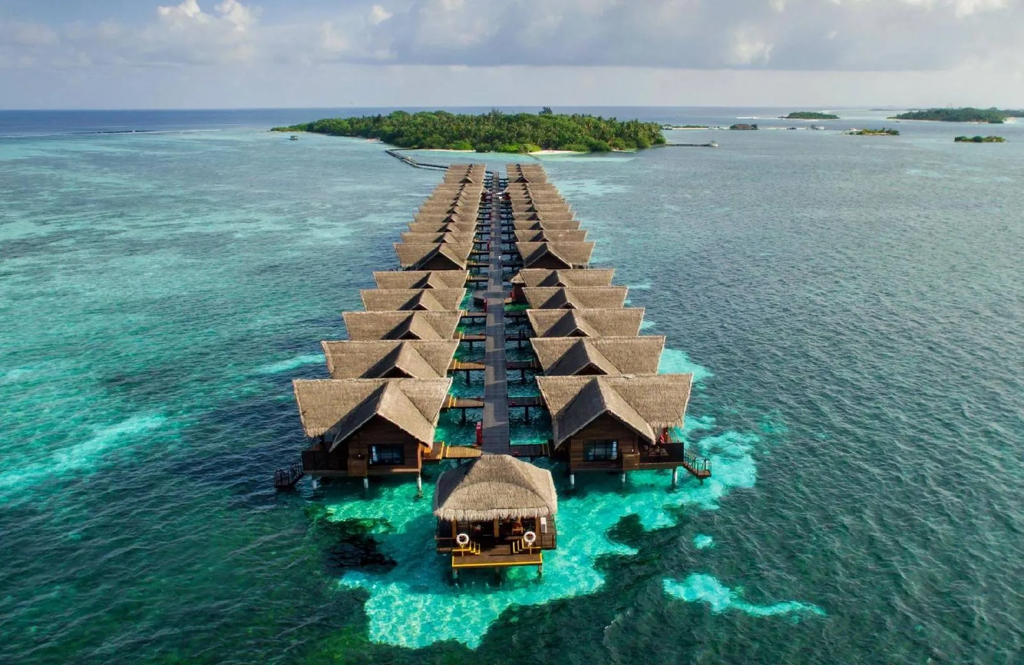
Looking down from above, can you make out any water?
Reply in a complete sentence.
Yes, water shows up in the scene.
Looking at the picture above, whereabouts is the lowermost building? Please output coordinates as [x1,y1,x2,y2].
[435,453,557,587]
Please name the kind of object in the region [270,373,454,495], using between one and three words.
house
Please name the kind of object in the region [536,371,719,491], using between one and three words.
house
